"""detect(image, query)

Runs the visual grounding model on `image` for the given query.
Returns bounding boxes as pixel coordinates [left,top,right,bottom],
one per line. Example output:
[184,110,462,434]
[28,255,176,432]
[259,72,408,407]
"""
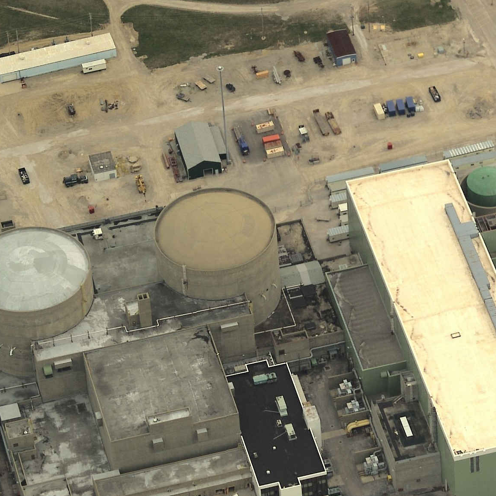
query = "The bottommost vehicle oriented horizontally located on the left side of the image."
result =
[63,171,88,184]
